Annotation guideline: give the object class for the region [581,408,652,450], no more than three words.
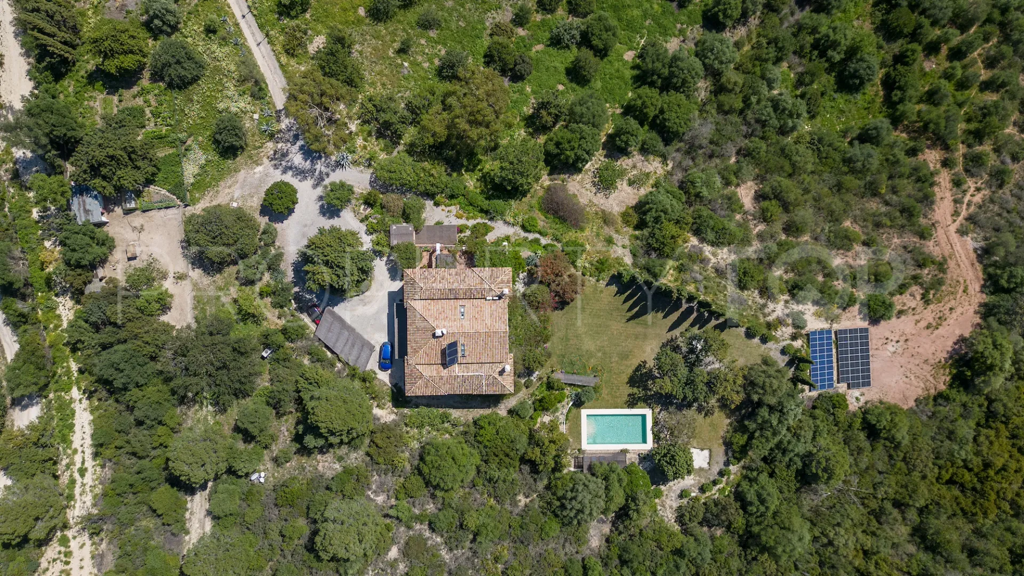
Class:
swimming pool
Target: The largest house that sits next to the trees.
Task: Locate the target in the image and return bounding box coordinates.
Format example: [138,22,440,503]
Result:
[394,267,515,396]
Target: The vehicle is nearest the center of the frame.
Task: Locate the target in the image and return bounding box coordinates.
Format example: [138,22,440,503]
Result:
[378,341,394,371]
